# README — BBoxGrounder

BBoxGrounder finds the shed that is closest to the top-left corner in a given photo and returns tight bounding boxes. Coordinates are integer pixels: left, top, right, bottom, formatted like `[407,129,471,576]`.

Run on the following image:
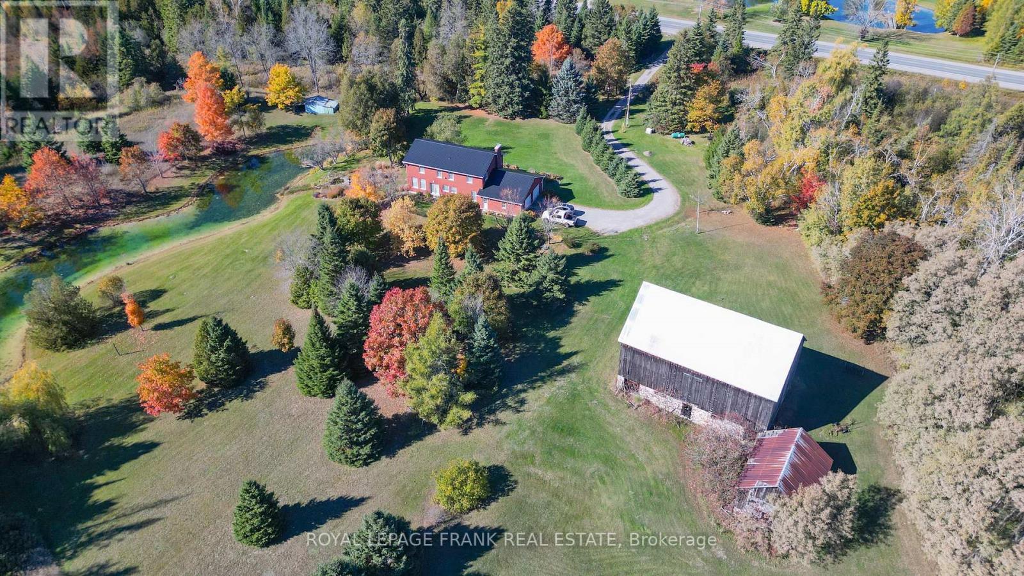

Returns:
[293,95,339,113]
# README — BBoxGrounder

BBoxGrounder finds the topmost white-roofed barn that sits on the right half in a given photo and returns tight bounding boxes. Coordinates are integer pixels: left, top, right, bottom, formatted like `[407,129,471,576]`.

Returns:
[617,279,805,450]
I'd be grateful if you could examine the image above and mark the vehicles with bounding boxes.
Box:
[540,210,576,227]
[546,201,573,214]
